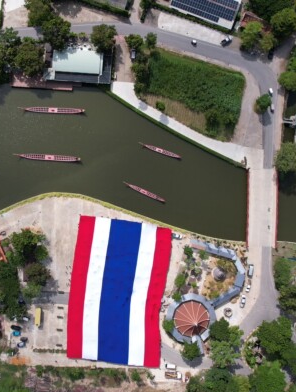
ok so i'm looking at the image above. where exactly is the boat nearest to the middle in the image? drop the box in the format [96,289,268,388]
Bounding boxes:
[125,182,167,202]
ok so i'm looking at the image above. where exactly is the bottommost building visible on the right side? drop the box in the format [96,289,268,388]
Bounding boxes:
[164,290,216,353]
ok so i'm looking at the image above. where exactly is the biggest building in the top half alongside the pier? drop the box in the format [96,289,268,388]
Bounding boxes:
[43,42,113,88]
